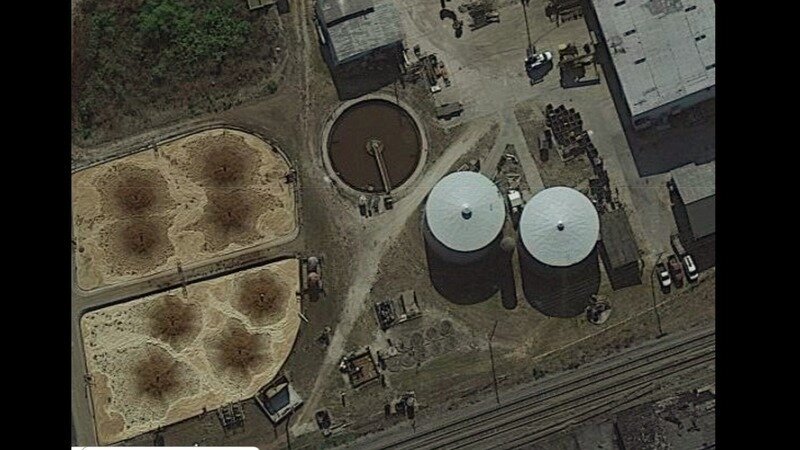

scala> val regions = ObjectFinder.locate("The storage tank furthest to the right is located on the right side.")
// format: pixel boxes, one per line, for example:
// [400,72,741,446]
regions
[517,187,601,278]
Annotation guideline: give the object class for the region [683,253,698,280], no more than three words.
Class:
car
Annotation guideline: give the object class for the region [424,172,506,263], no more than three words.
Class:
storage tank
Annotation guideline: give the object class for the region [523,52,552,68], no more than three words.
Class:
vehicle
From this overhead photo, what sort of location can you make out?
industrial area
